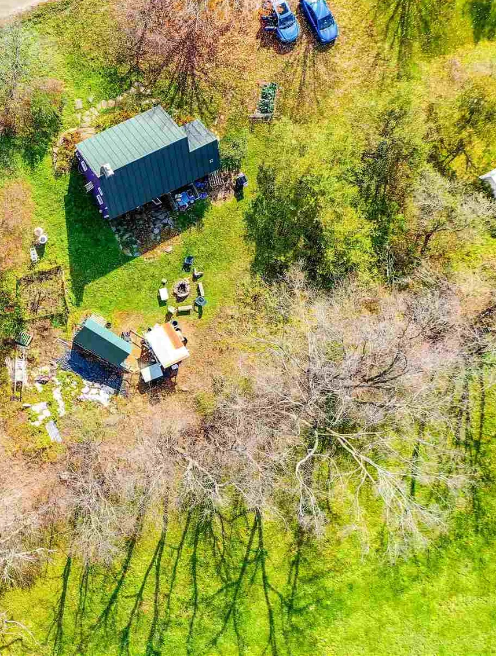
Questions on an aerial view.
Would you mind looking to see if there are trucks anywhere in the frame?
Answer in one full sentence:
No, there's no truck here.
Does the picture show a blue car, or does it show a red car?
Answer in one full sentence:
Visible in the photo is a blue car.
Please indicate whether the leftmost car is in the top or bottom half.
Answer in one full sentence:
The leftmost car is in the top half of the image.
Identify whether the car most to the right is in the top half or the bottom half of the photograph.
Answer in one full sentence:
You can find the car most to the right in the top half.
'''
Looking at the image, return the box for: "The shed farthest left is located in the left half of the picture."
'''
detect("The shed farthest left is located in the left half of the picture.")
[67,320,135,379]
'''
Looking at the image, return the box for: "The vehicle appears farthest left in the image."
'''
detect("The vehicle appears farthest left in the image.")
[263,0,302,43]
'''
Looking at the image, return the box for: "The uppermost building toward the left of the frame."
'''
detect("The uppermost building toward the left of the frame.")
[75,106,220,219]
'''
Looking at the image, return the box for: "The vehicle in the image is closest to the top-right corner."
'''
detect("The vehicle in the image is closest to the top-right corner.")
[303,0,339,46]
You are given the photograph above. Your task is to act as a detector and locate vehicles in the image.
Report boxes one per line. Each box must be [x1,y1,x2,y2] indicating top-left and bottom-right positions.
[303,0,339,46]
[263,0,302,43]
